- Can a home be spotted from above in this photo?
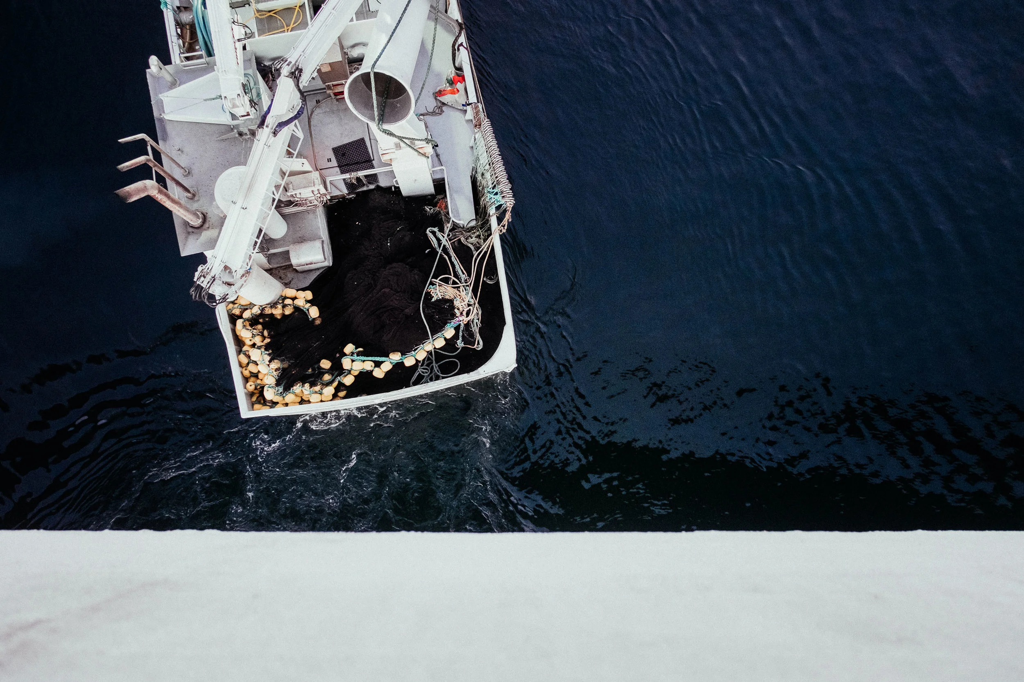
No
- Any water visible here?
Yes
